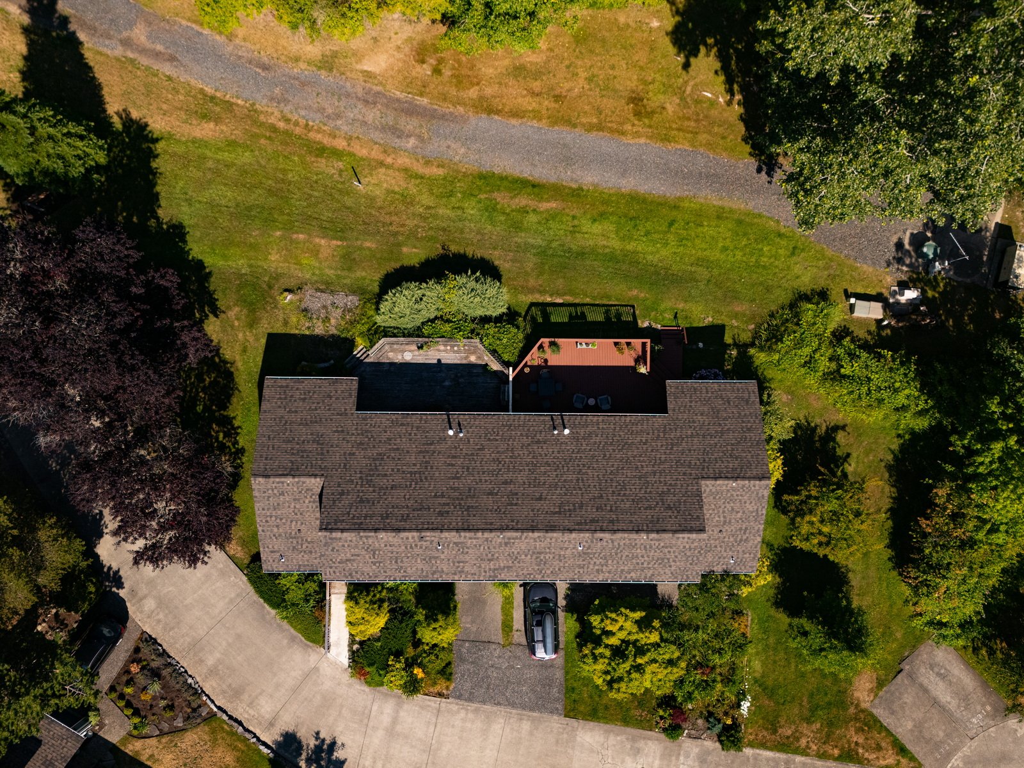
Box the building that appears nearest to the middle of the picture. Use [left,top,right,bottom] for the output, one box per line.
[249,374,771,586]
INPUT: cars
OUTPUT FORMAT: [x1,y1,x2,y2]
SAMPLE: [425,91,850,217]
[520,585,563,662]
[65,597,140,681]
